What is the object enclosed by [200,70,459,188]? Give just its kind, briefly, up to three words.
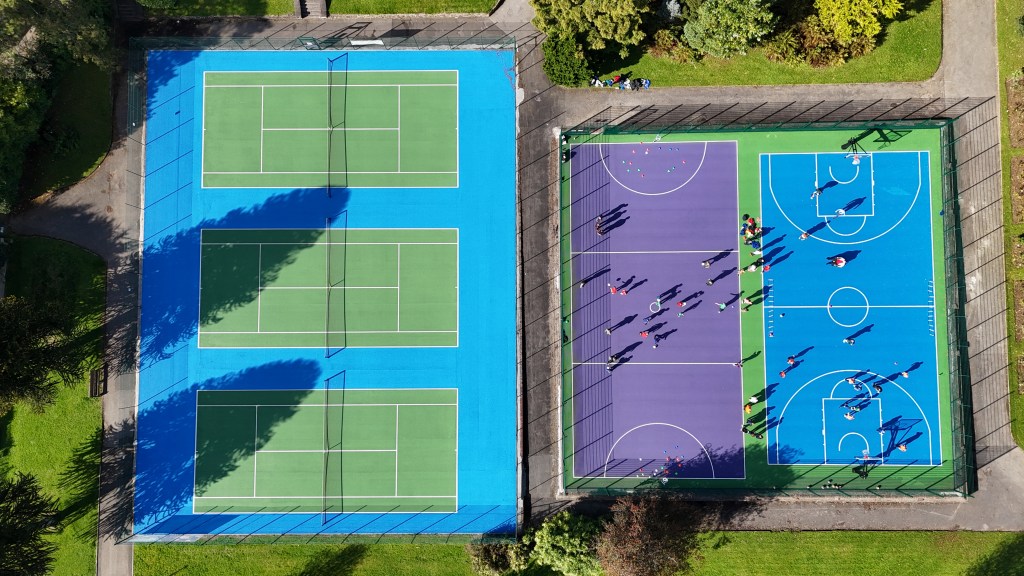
tennis court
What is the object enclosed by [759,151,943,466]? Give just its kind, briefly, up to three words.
basketball court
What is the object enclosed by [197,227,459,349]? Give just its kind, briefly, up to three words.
tennis court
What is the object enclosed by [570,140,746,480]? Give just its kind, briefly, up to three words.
sports court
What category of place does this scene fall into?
sports ground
